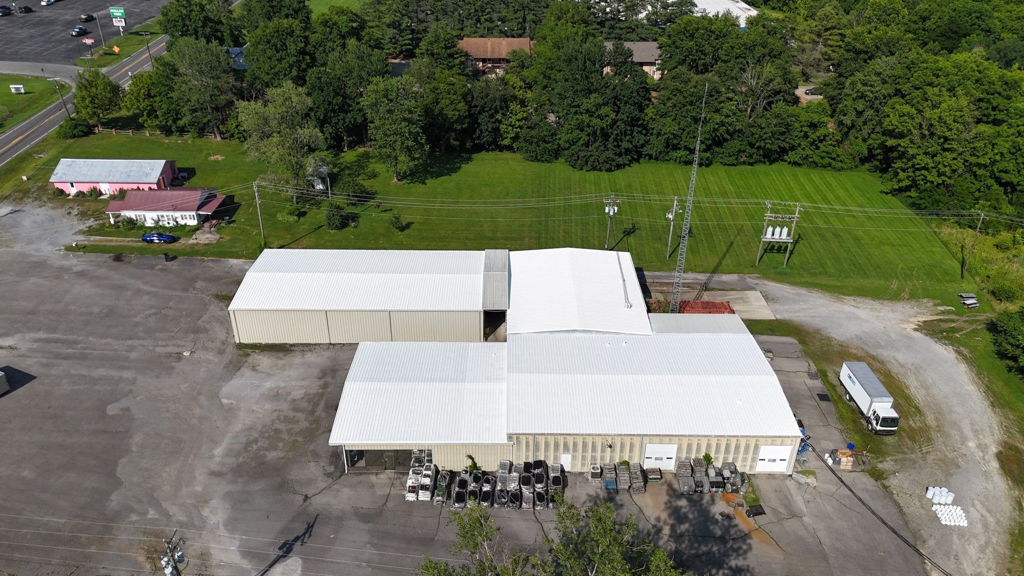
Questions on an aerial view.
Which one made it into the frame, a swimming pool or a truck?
truck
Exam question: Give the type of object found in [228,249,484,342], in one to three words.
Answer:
barn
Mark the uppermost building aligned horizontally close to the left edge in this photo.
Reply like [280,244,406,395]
[45,158,179,200]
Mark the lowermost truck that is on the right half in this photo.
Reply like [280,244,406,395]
[841,361,905,434]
